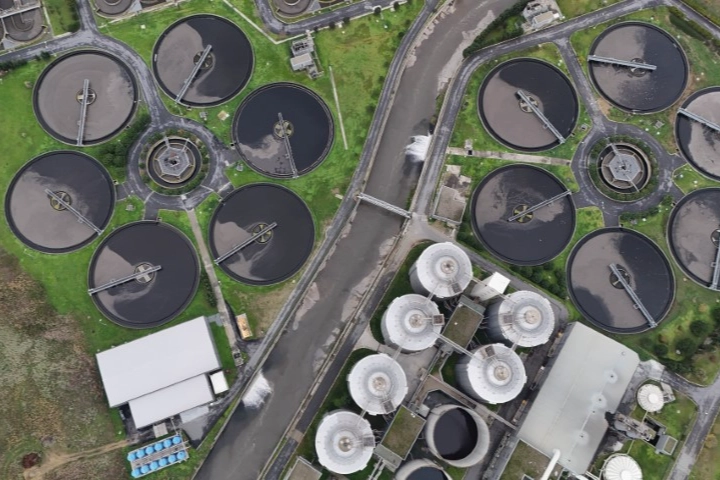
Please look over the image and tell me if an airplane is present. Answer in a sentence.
No, no airplane is visible in the view.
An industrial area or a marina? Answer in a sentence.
The area seen from above is an industrial area.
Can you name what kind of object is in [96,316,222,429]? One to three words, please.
building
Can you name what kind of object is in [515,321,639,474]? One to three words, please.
building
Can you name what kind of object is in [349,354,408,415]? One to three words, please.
storage tank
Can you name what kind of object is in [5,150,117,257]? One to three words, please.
water tank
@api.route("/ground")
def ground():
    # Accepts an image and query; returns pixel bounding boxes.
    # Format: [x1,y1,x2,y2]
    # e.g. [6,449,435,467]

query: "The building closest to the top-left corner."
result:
[291,29,323,81]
